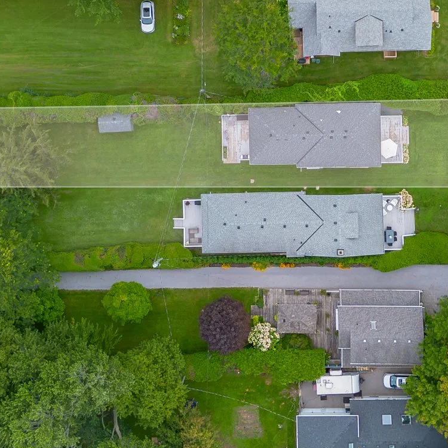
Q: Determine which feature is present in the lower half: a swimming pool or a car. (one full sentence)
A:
Looking in the lower half, you will find a car.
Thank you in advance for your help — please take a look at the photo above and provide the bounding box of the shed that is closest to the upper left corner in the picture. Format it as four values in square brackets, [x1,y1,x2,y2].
[98,114,135,133]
